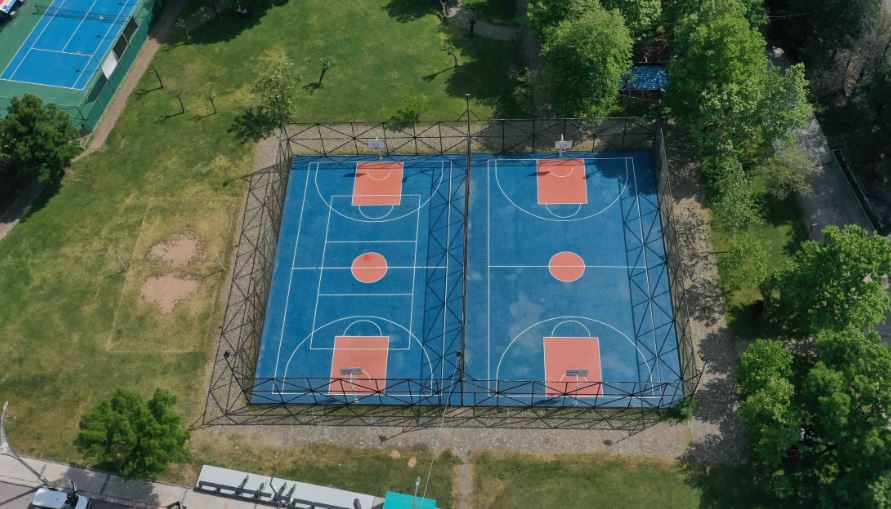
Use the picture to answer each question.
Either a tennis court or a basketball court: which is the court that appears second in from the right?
basketball court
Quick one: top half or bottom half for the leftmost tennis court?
top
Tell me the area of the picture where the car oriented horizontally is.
bottom left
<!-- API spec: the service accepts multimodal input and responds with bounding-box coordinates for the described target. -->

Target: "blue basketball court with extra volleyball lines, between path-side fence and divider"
[250,153,466,405]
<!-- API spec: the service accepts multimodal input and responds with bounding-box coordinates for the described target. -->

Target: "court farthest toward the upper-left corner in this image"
[0,0,153,144]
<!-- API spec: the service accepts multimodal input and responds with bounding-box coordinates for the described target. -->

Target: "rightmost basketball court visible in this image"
[463,152,687,407]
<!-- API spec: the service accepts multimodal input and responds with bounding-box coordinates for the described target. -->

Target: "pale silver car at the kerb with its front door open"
[30,480,94,509]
